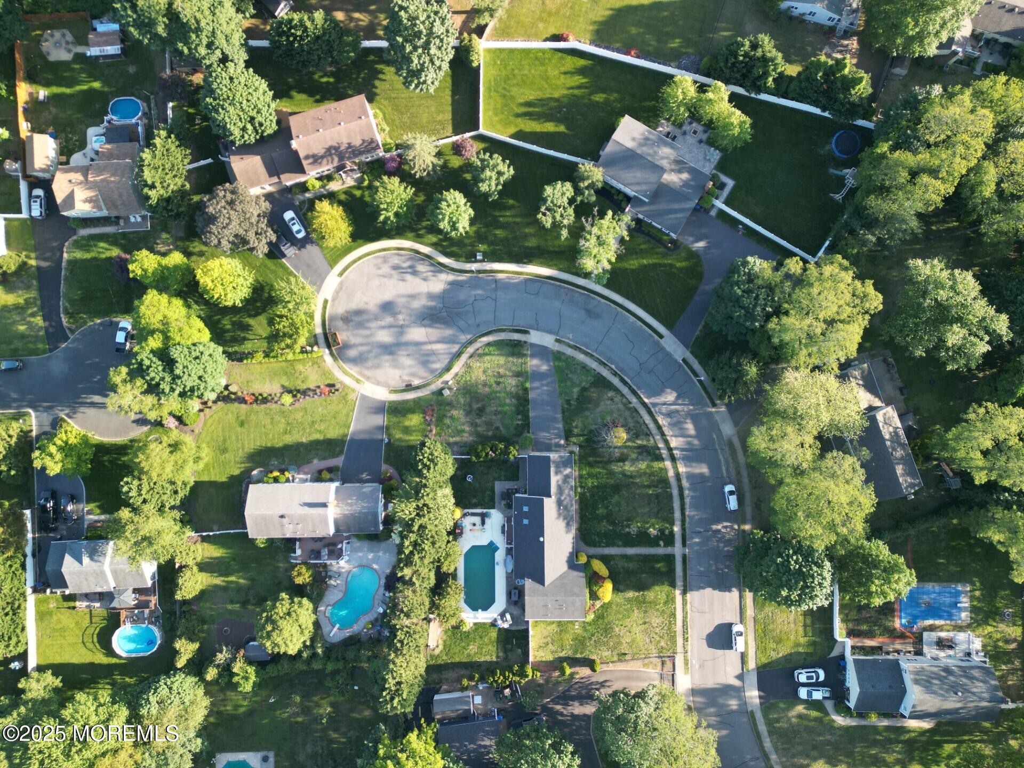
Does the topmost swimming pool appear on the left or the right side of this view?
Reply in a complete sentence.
You can find the topmost swimming pool on the left side of the picture.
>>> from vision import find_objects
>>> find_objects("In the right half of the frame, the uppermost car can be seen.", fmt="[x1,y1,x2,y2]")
[722,483,739,512]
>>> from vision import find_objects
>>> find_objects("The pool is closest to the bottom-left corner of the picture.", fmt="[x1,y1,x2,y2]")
[113,622,164,657]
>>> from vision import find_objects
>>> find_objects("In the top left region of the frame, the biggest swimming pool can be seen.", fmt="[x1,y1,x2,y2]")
[107,96,147,123]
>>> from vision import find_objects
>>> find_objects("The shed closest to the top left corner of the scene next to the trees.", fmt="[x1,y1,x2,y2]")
[86,31,127,62]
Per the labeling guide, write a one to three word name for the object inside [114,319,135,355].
truck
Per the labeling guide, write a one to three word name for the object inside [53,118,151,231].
house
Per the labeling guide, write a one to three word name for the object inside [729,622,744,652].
car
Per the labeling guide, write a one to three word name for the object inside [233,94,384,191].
house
